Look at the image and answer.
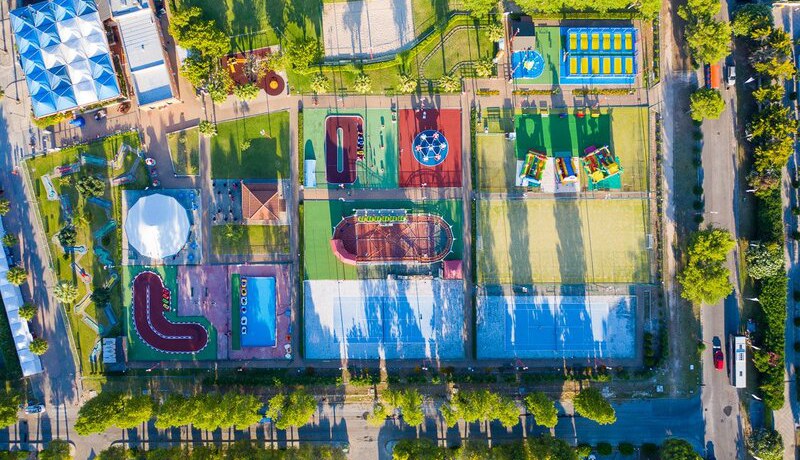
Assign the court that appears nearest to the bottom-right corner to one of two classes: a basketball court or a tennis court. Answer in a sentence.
Specifically, the court that appears nearest to the bottom-right corner is a tennis court.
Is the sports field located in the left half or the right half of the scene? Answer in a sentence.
It is on the right.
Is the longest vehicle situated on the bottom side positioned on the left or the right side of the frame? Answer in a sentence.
The longest vehicle situated on the bottom side sits on the right side.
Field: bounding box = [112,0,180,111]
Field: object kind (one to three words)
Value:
building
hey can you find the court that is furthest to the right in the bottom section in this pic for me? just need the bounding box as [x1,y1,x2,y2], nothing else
[477,295,637,358]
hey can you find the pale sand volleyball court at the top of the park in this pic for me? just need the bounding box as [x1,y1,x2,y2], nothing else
[323,0,413,59]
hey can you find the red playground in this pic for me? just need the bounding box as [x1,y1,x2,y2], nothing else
[228,48,283,94]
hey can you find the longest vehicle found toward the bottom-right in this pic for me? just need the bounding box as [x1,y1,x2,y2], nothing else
[728,336,748,392]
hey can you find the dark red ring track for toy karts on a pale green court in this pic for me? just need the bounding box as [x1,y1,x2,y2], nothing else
[303,108,398,188]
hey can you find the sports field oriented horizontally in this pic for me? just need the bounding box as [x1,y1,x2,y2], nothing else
[477,198,650,284]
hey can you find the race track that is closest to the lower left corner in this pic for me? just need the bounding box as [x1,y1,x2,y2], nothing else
[127,266,216,360]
